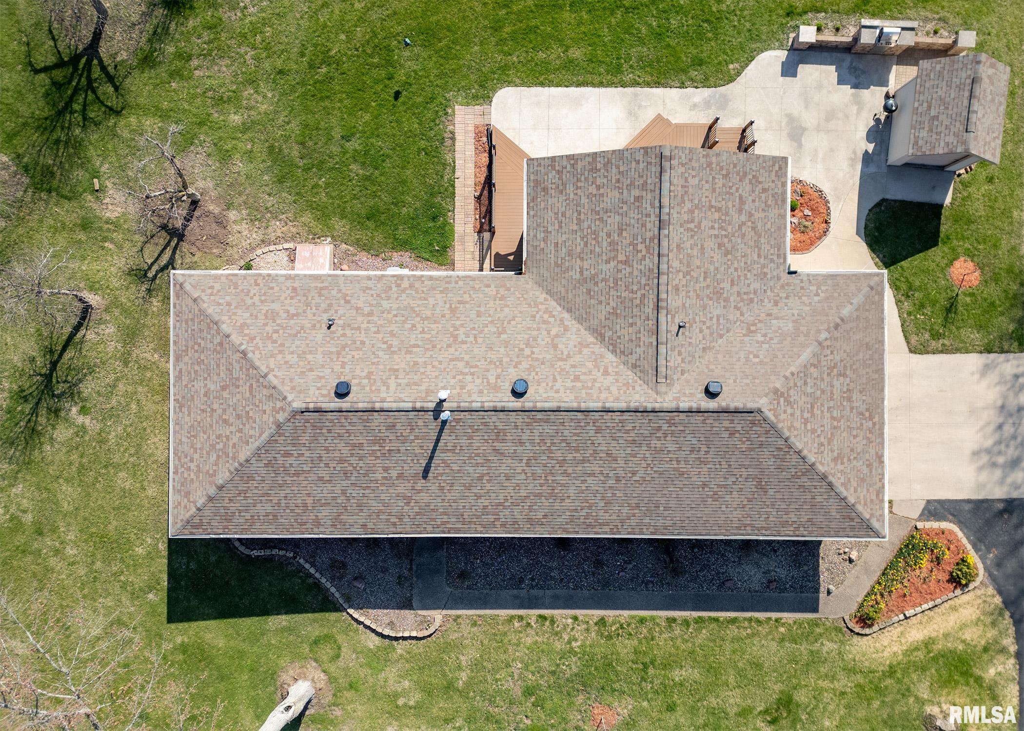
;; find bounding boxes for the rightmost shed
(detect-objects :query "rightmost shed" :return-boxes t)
[887,54,1008,173]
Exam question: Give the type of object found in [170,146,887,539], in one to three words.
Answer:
house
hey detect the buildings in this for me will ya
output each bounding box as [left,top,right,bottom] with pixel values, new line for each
[170,146,887,539]
[887,54,1008,173]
